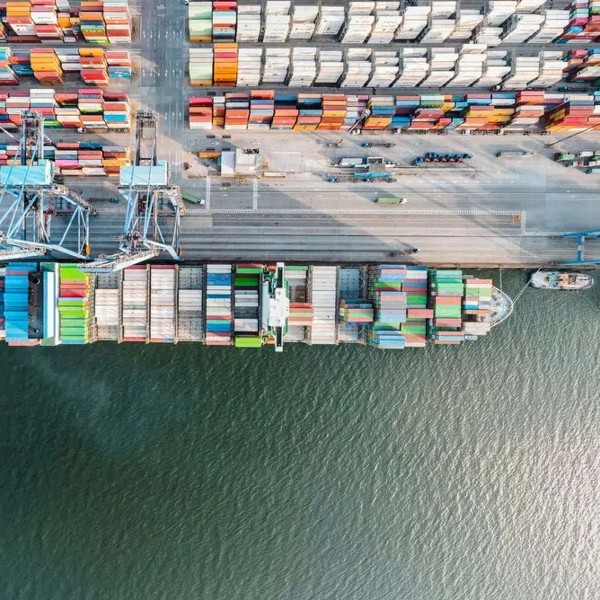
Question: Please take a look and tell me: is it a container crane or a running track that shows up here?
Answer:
container crane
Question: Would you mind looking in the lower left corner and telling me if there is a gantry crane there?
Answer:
No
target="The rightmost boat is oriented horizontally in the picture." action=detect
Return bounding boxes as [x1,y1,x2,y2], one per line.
[527,272,594,291]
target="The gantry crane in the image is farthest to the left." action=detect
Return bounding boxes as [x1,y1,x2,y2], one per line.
[0,107,100,261]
